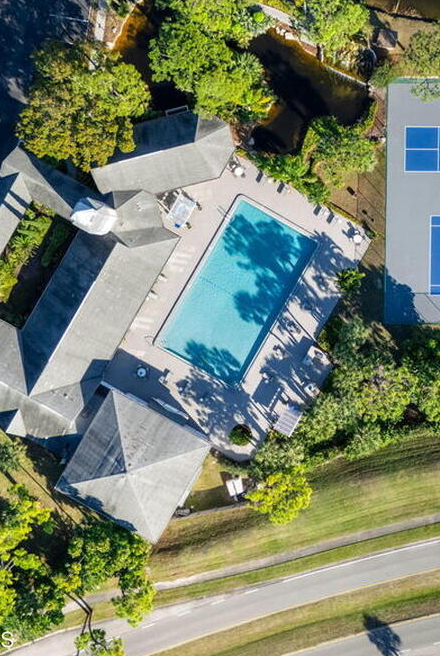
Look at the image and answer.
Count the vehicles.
none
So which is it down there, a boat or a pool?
pool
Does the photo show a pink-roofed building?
No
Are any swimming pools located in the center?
Yes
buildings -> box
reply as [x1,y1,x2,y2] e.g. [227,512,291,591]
[0,112,234,438]
[55,384,213,543]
